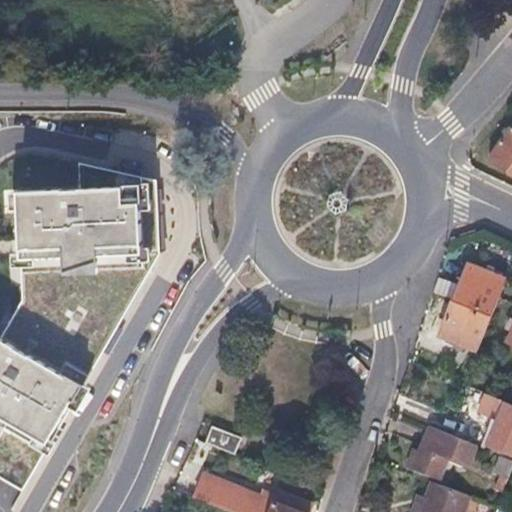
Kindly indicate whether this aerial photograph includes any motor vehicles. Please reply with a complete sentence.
Yes, a motor vehicle appears in the view.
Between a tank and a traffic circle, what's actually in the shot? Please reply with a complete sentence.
Of the two, only a traffic circle appears.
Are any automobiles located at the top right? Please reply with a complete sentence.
No, looking at the top right, there is no automobile.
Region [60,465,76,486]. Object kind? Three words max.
car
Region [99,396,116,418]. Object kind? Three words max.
car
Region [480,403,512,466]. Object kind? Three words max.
house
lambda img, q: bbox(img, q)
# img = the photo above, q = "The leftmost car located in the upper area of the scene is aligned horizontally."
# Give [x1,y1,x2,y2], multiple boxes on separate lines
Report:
[35,120,56,132]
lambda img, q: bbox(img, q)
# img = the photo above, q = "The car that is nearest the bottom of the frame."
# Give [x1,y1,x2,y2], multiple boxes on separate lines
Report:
[49,487,65,507]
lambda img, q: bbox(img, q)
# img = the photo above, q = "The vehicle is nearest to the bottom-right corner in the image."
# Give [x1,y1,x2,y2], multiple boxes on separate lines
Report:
[443,415,464,430]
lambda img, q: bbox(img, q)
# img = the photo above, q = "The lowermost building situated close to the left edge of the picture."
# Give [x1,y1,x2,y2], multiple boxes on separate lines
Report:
[0,340,95,454]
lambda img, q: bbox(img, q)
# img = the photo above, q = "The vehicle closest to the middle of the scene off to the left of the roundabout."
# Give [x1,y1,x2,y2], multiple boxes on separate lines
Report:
[179,260,195,281]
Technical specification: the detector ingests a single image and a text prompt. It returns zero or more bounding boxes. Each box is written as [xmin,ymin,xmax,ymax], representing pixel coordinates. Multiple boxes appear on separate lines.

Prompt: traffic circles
[222,74,456,317]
